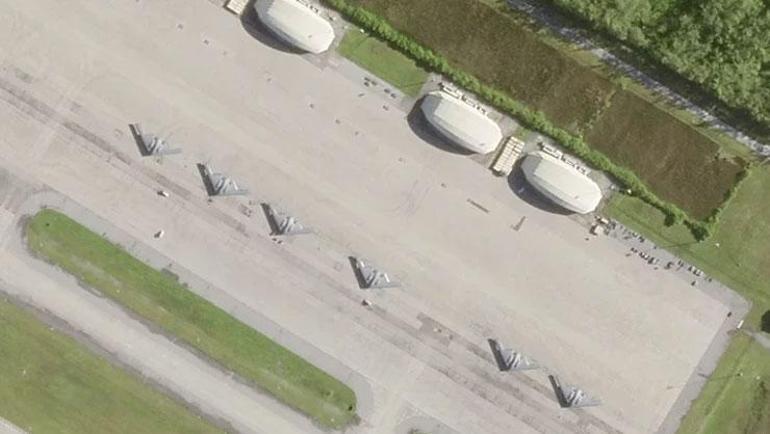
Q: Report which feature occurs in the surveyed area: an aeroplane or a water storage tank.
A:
aeroplane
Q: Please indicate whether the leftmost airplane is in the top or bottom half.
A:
top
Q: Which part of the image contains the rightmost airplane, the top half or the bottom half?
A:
bottom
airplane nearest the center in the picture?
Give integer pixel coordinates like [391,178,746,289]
[351,259,400,289]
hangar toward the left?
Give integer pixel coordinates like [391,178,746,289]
[253,0,332,50]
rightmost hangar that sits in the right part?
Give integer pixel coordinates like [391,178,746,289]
[522,153,601,211]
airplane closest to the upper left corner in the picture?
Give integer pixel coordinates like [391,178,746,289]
[134,126,182,155]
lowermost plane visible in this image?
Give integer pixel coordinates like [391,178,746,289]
[553,378,601,408]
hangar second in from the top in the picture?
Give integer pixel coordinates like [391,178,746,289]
[422,93,501,151]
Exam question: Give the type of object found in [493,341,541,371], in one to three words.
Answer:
airplane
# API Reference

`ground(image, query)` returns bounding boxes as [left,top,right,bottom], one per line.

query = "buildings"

[253,0,332,50]
[522,153,601,211]
[422,93,501,151]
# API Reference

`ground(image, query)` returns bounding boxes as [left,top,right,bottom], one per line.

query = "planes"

[264,205,312,235]
[351,259,400,289]
[201,166,249,196]
[493,341,541,371]
[134,126,182,155]
[553,378,601,408]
